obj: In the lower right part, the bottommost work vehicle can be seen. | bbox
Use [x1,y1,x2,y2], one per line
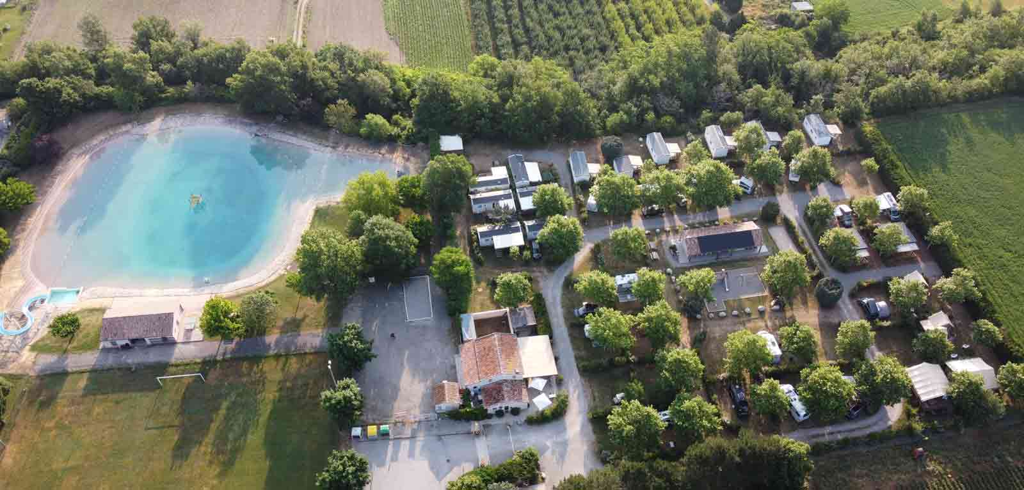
[911,445,931,462]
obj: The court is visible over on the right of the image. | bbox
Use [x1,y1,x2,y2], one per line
[705,267,767,312]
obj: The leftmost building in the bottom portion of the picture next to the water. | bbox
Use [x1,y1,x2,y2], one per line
[92,299,187,355]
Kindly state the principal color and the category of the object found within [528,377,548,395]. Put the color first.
white umbrella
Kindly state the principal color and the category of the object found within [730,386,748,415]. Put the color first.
black car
